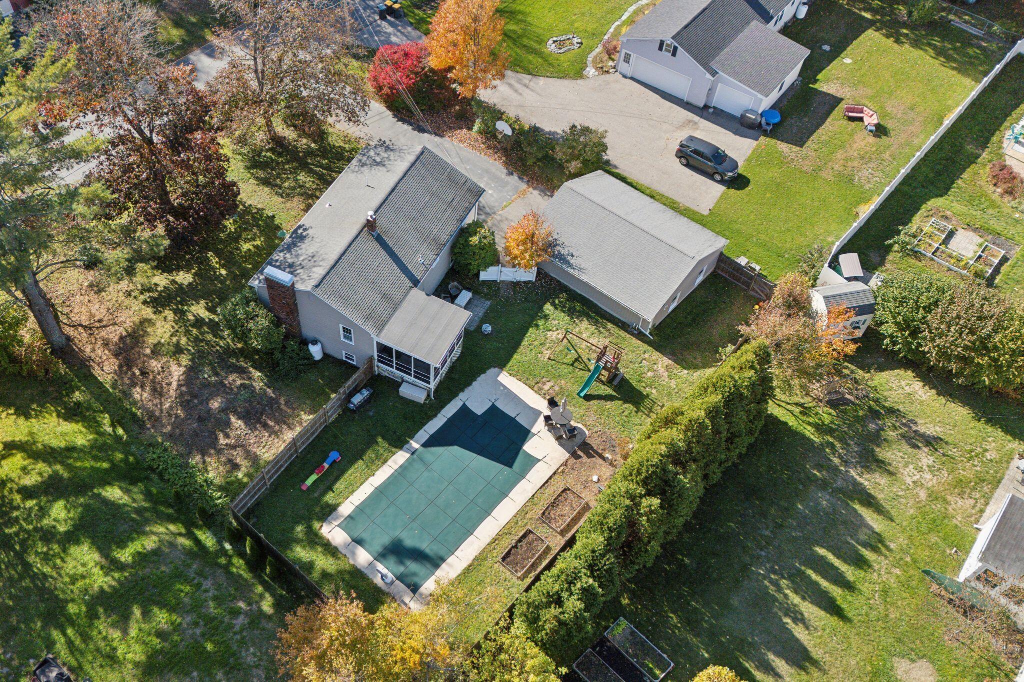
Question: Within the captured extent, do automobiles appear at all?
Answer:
Yes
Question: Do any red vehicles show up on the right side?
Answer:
No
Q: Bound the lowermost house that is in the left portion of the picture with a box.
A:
[248,145,486,400]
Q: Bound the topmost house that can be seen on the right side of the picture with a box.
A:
[617,0,809,114]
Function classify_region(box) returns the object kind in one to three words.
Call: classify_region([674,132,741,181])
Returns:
car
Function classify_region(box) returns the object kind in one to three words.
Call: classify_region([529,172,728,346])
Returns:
building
